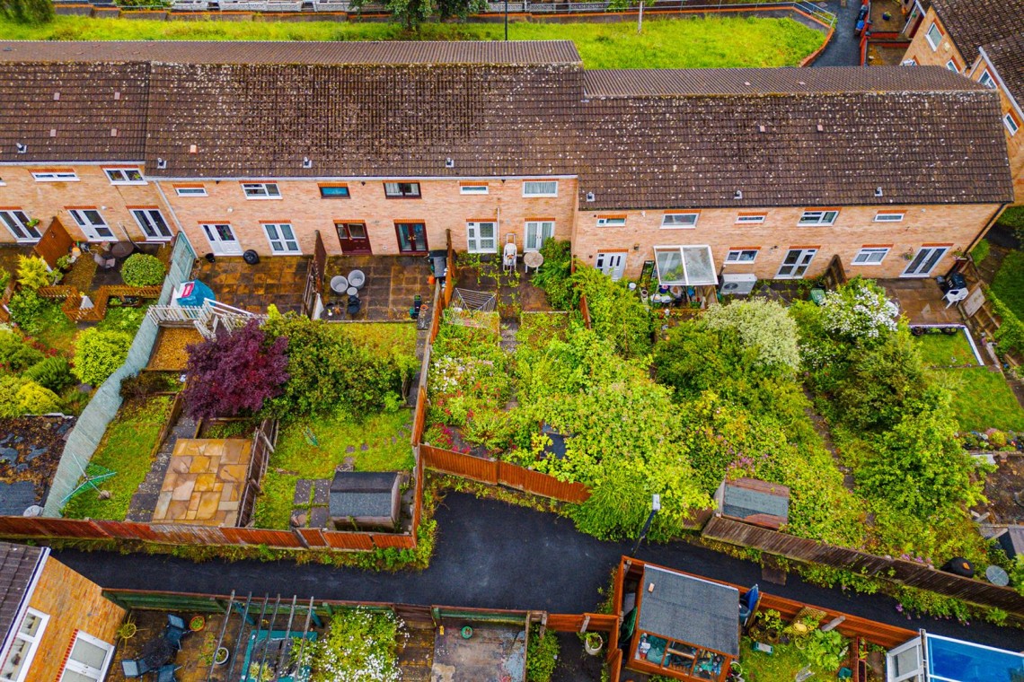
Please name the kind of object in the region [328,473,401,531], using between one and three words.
shed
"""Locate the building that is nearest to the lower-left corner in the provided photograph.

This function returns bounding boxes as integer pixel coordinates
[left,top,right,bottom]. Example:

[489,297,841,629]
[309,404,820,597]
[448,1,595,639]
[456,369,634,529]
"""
[0,538,127,682]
